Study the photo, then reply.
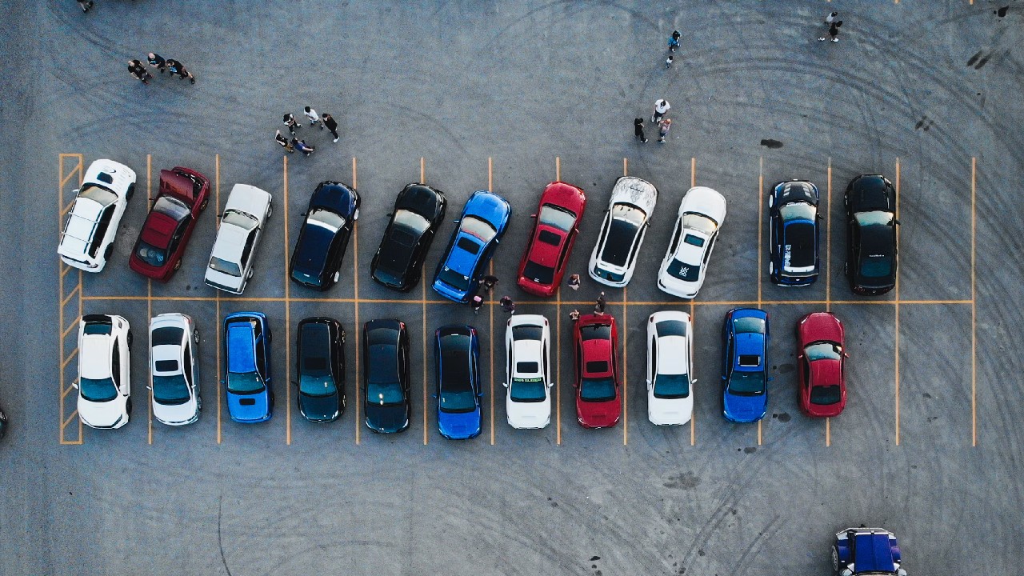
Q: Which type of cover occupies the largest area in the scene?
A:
paved ground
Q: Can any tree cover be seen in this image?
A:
No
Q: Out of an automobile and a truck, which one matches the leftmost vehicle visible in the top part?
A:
automobile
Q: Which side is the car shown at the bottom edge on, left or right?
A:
right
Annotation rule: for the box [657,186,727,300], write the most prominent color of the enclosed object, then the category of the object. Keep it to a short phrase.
white car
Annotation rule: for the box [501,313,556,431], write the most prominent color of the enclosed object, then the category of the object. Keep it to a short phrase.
white car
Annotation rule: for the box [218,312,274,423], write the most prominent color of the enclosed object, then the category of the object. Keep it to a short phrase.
blue car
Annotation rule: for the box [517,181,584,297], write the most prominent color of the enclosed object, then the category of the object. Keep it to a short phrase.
red car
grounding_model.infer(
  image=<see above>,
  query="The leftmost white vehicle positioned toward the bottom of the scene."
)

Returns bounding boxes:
[72,315,133,430]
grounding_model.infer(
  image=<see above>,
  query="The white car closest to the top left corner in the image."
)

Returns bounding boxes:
[58,159,136,274]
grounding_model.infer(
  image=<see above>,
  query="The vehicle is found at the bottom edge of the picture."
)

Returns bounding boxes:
[831,522,905,576]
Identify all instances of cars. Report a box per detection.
[794,311,850,419]
[357,318,413,434]
[657,186,727,300]
[720,307,776,424]
[288,183,360,290]
[433,190,510,305]
[430,324,485,441]
[643,310,699,427]
[590,177,657,289]
[72,315,133,430]
[842,174,903,297]
[569,313,625,430]
[831,522,905,576]
[58,159,136,274]
[204,182,274,299]
[218,312,274,423]
[517,181,584,297]
[370,185,441,293]
[144,312,204,427]
[291,315,347,425]
[767,177,825,291]
[131,168,210,283]
[501,313,556,431]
